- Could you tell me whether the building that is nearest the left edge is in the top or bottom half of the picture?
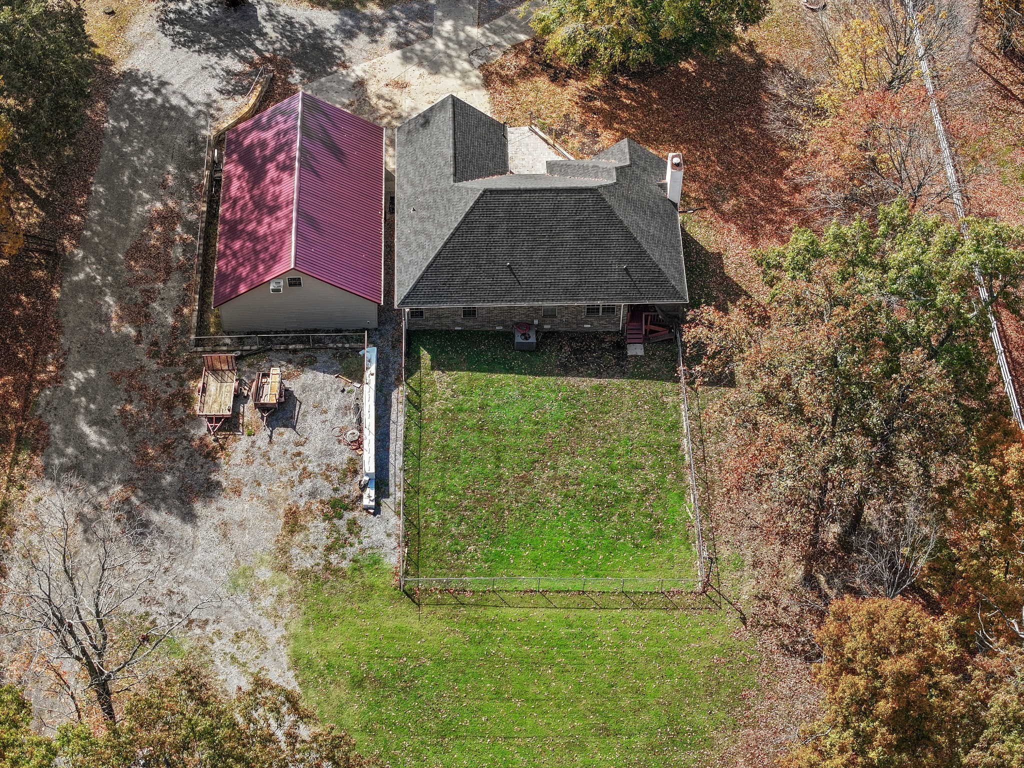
top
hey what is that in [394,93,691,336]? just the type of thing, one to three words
house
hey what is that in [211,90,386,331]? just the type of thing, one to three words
building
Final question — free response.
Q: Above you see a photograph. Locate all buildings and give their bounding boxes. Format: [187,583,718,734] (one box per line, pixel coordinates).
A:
[211,90,386,331]
[394,93,691,336]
